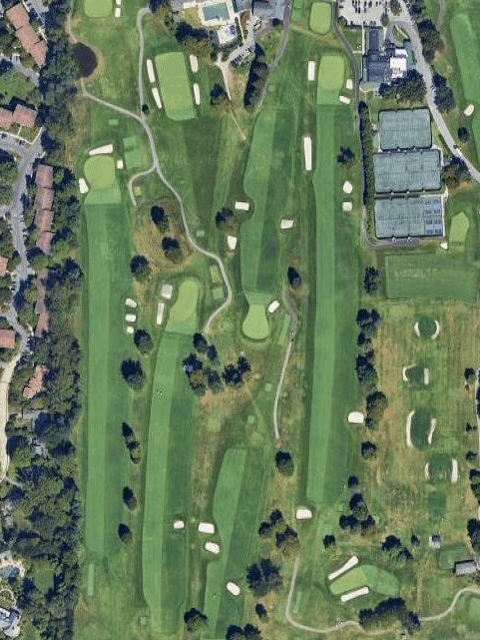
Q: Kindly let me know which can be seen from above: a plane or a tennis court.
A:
tennis court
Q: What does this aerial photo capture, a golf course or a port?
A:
golf course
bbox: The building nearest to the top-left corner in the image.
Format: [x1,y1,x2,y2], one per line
[5,3,47,67]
